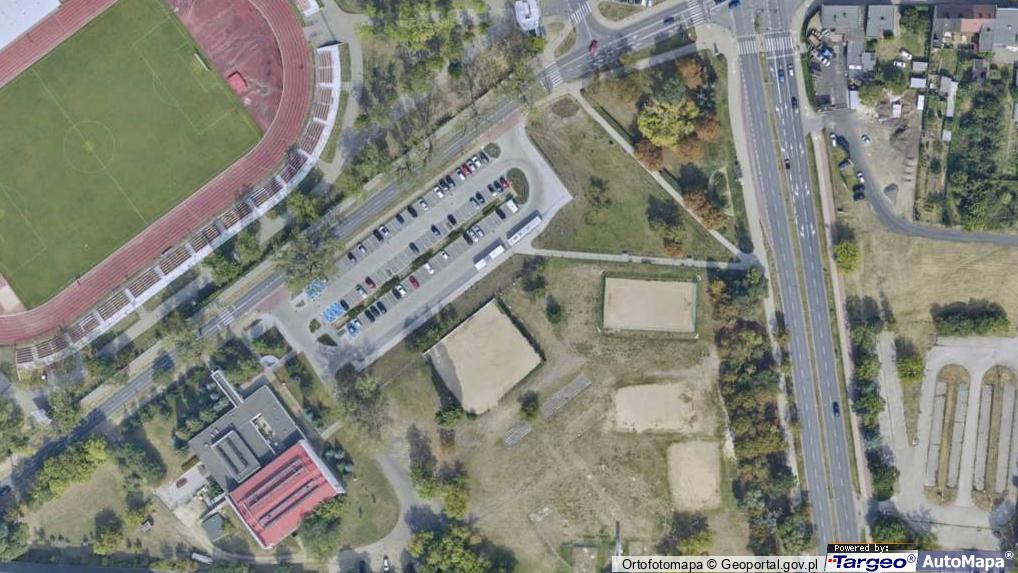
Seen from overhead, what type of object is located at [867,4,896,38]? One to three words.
house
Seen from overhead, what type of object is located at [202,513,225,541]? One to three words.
shed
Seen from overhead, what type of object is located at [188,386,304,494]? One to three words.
building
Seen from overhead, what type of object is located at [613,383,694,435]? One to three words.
sports court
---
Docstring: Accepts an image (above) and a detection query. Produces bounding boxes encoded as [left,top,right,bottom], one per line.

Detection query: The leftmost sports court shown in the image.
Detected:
[431,302,540,412]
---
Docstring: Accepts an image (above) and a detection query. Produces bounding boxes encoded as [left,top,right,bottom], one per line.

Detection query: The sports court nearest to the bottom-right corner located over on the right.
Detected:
[668,441,720,511]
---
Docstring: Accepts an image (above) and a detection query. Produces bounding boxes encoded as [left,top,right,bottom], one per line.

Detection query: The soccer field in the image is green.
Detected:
[0,0,261,303]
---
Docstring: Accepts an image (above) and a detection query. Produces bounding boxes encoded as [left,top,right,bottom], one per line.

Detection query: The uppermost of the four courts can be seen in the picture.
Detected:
[602,278,696,332]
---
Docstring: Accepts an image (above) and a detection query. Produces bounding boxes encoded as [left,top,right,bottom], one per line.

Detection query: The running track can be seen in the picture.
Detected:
[0,0,312,341]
